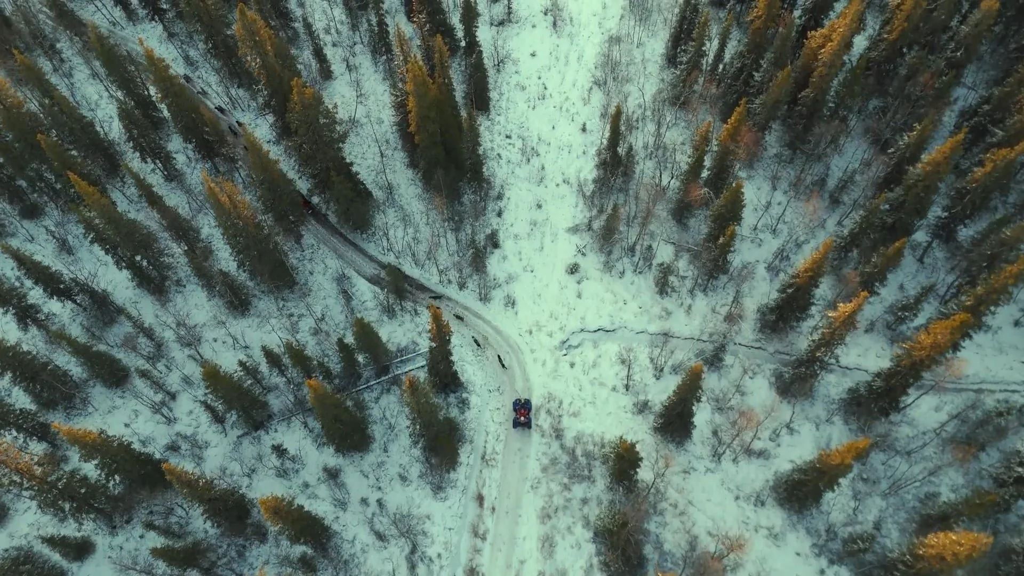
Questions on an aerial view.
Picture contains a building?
No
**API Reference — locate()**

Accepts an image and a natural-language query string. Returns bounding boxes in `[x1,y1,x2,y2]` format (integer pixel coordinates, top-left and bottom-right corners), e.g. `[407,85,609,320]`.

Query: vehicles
[513,397,532,430]
[299,191,320,218]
